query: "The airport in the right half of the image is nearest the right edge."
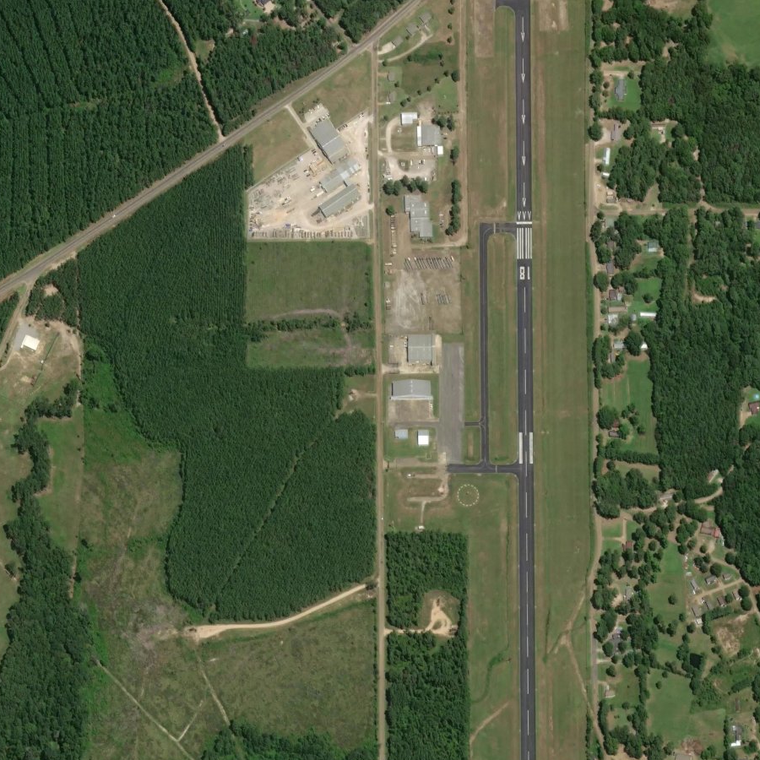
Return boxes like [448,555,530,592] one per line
[388,0,537,760]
